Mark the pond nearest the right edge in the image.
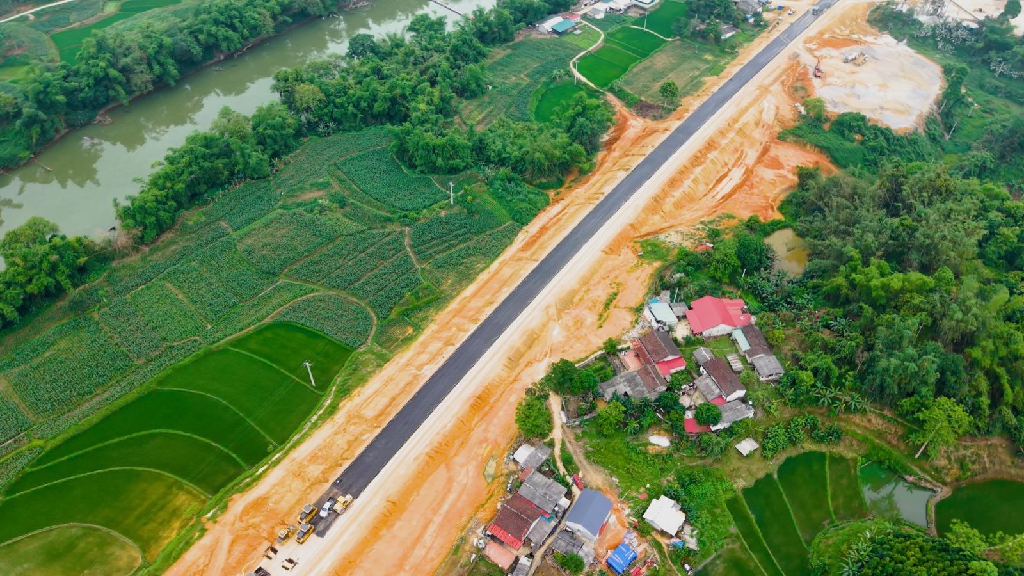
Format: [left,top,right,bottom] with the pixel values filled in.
[937,482,1024,546]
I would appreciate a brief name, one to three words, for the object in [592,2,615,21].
house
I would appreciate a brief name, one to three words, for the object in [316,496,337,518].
truck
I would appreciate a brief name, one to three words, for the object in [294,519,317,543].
work vehicle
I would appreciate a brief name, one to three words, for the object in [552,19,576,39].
barn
